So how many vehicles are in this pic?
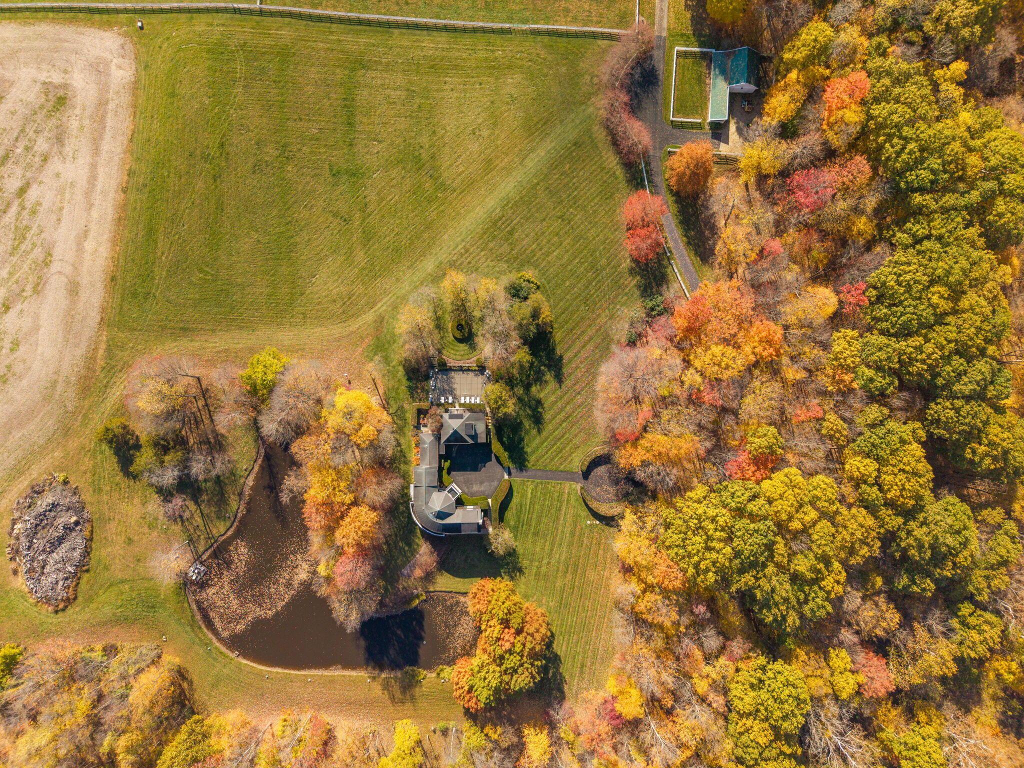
0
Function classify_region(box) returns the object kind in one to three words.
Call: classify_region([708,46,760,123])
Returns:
barn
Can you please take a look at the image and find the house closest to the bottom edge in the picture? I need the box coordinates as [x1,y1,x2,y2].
[410,433,488,536]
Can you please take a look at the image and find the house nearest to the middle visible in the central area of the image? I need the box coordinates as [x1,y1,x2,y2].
[441,409,486,444]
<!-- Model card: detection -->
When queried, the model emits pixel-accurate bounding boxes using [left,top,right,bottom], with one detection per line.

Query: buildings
[410,433,488,536]
[708,46,760,123]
